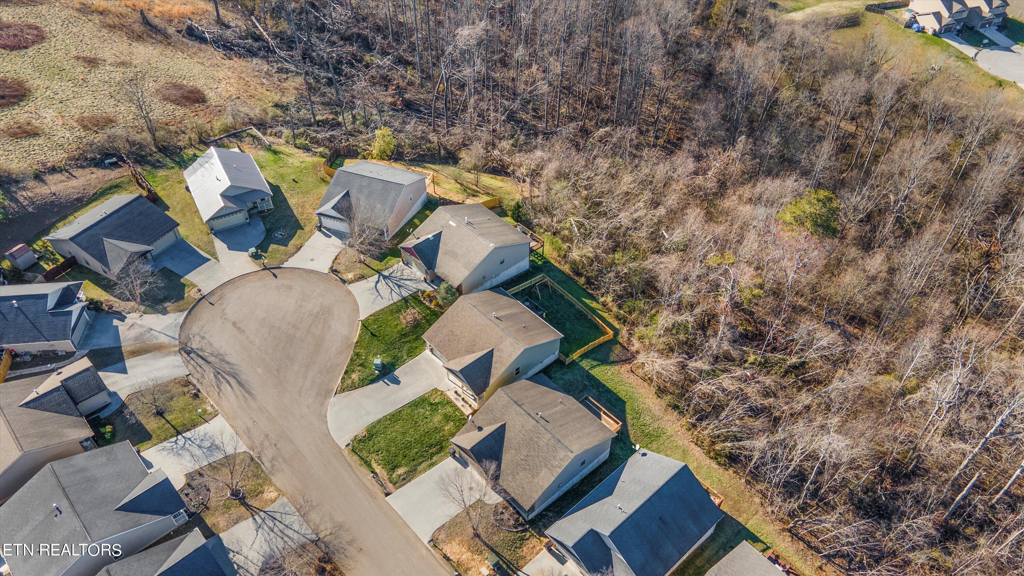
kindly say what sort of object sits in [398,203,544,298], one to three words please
house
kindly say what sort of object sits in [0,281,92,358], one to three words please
house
